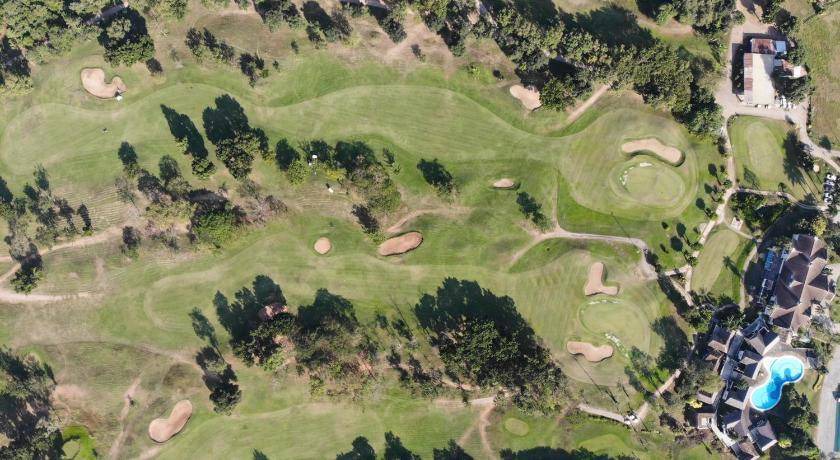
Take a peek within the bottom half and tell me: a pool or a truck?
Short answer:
pool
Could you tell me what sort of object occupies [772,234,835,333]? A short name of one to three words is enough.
building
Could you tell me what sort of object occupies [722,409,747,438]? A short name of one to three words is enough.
house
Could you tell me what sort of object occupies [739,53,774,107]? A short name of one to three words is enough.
building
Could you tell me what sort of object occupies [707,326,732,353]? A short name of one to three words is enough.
house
